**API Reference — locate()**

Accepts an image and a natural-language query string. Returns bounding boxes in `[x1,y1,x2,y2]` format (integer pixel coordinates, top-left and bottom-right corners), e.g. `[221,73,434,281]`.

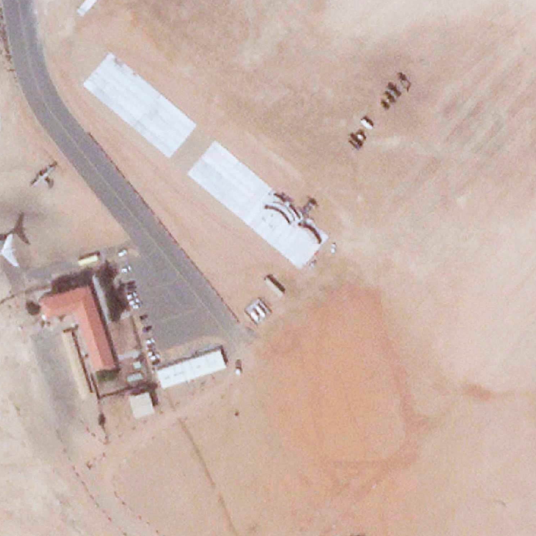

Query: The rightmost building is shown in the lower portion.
[157,348,225,389]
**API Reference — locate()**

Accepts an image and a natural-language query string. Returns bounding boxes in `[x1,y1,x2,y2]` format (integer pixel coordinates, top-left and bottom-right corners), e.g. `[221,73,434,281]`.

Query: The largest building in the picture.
[40,287,117,373]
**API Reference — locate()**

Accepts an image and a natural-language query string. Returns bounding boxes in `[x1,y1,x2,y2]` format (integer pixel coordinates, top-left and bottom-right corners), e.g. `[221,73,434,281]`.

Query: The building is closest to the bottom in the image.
[130,389,155,419]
